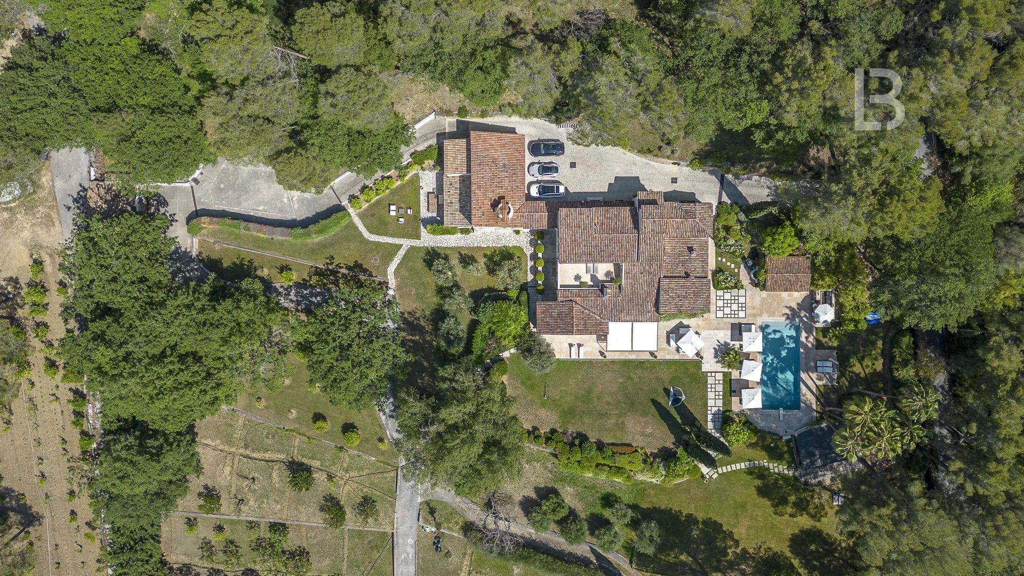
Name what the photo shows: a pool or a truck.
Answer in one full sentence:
Of the two, only a pool appears.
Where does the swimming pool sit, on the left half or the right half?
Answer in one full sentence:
You can find the swimming pool on the right side of the picture.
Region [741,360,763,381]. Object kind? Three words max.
umbrella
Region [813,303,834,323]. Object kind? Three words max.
umbrella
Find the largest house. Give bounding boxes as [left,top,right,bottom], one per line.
[536,191,714,335]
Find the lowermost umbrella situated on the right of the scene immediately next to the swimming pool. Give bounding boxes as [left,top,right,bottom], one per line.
[741,388,762,409]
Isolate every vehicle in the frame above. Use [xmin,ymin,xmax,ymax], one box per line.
[528,161,561,178]
[530,139,566,157]
[530,181,566,199]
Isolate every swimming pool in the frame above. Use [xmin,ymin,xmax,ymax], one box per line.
[760,320,804,413]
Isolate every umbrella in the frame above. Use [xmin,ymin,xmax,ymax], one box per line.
[813,303,834,323]
[741,360,763,381]
[741,388,762,409]
[742,332,762,352]
[676,329,705,358]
